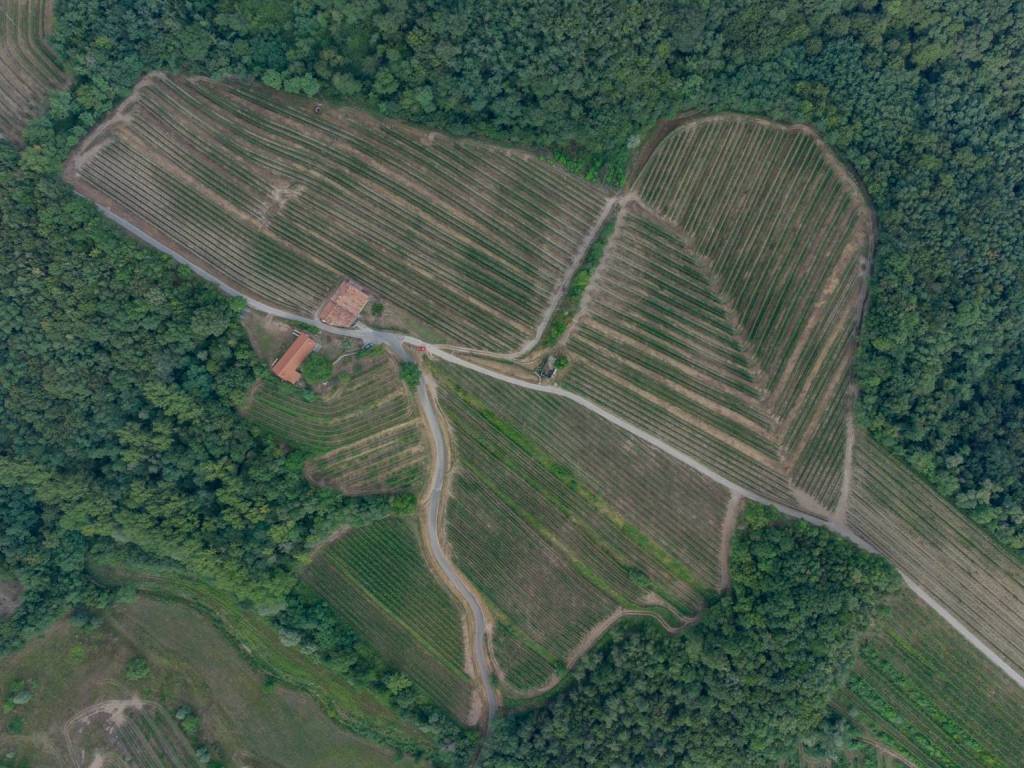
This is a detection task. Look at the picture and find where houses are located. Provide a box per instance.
[273,332,317,386]
[324,278,368,329]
